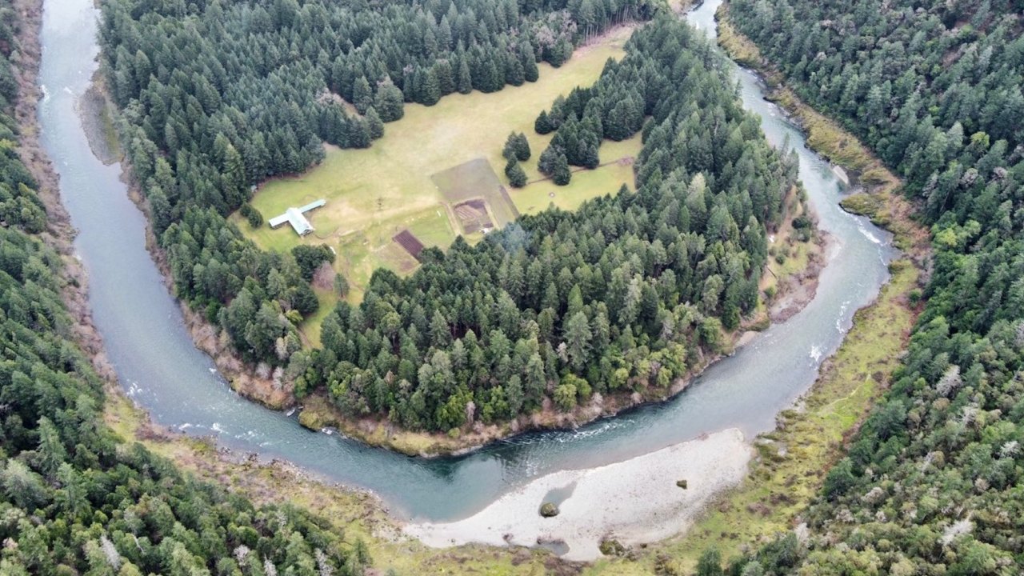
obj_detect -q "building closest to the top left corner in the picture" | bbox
[269,204,328,241]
